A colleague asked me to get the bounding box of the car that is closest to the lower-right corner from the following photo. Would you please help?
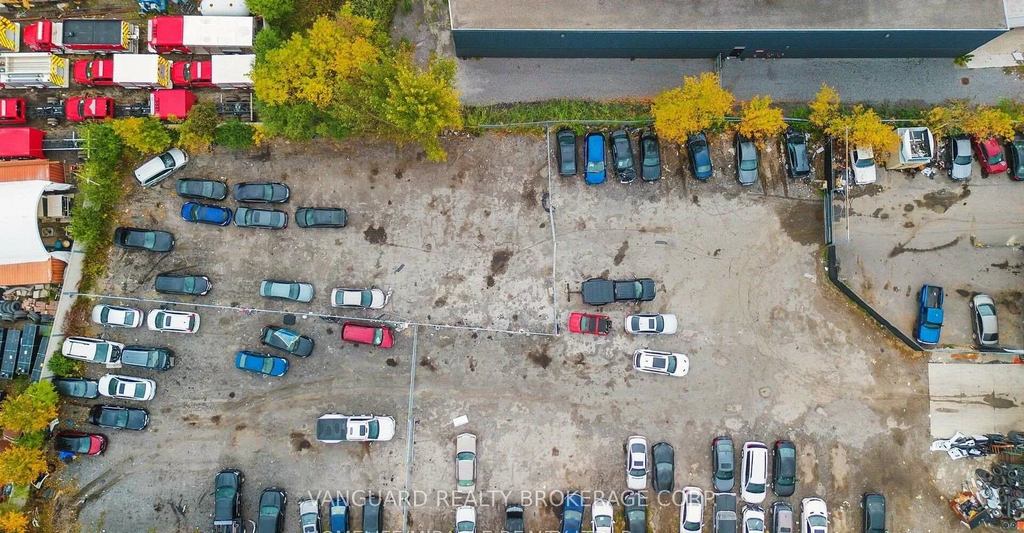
[861,492,889,533]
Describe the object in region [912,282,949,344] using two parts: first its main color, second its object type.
blue vehicle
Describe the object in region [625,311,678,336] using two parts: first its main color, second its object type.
white car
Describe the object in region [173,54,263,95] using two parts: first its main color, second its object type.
white truck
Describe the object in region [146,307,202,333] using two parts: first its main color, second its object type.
white car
